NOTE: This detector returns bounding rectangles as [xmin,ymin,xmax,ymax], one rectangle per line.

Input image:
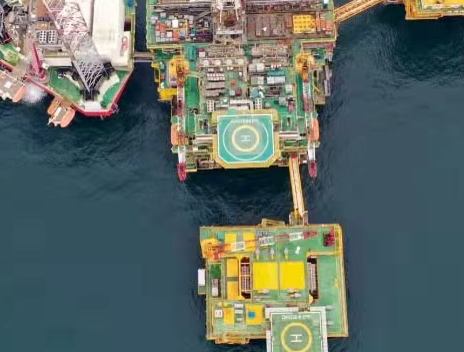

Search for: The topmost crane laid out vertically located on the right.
[296,48,316,180]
